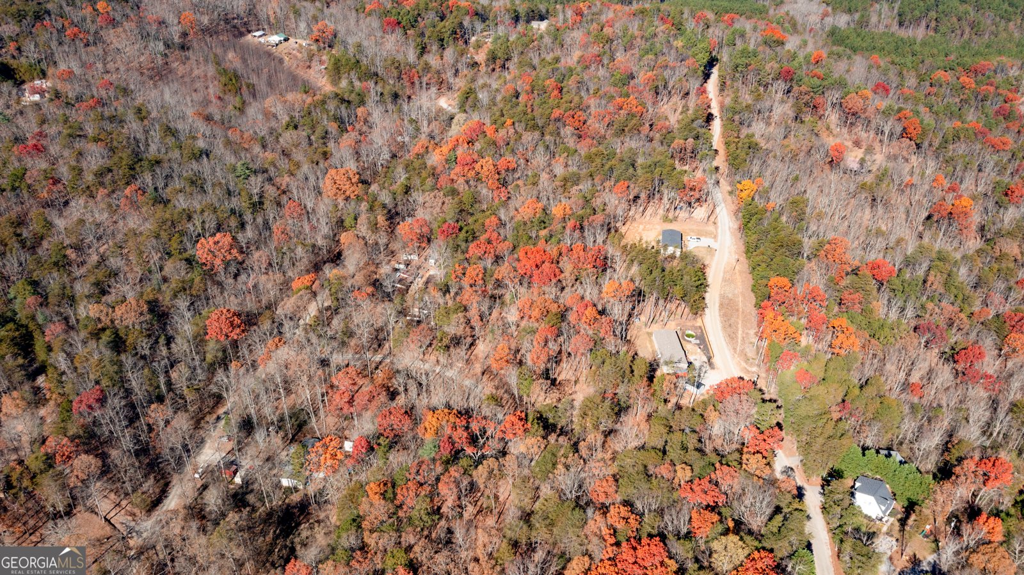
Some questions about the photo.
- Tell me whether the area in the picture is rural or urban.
rural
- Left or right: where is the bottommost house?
right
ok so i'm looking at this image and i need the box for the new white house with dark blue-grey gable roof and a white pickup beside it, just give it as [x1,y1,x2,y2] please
[654,229,681,254]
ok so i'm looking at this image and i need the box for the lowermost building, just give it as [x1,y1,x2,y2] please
[854,477,897,535]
